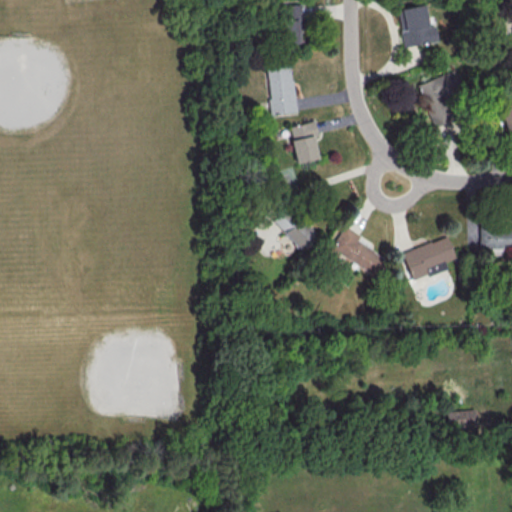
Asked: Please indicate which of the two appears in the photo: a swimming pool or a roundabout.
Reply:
swimming pool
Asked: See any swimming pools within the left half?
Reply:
No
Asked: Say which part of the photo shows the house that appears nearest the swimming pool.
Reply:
right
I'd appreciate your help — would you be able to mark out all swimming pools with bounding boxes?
[403,262,454,307]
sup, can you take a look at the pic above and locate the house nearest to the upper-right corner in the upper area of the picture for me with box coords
[400,6,440,48]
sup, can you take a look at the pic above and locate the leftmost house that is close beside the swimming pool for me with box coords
[337,228,383,276]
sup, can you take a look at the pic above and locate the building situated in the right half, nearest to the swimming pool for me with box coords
[405,238,456,278]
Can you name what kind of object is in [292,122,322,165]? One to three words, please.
house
